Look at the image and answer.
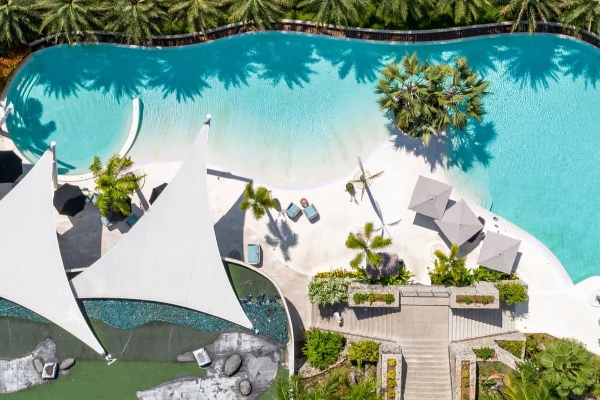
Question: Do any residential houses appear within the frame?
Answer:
No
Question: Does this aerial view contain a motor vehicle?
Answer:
No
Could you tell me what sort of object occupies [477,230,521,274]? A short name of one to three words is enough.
umbrella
